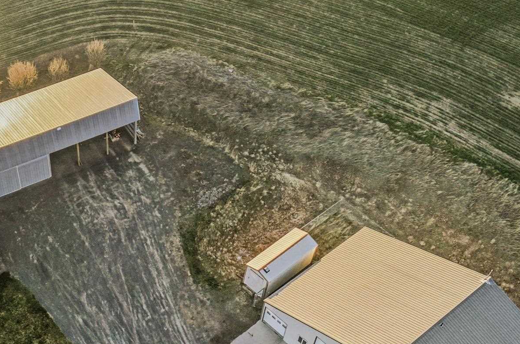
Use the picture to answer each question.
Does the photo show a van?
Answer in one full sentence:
No, the picture doesn't show any van.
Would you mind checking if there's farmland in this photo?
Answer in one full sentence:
Yes, some farmland is visible.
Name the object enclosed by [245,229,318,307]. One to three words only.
shed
